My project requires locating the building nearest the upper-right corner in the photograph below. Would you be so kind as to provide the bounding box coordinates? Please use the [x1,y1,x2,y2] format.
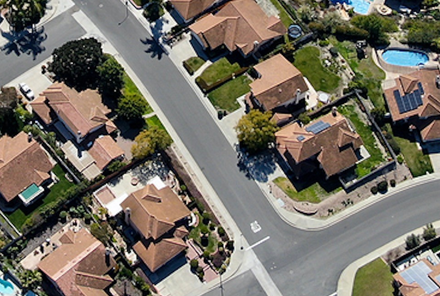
[386,69,440,144]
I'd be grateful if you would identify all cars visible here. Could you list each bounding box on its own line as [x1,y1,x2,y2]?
[19,83,35,100]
